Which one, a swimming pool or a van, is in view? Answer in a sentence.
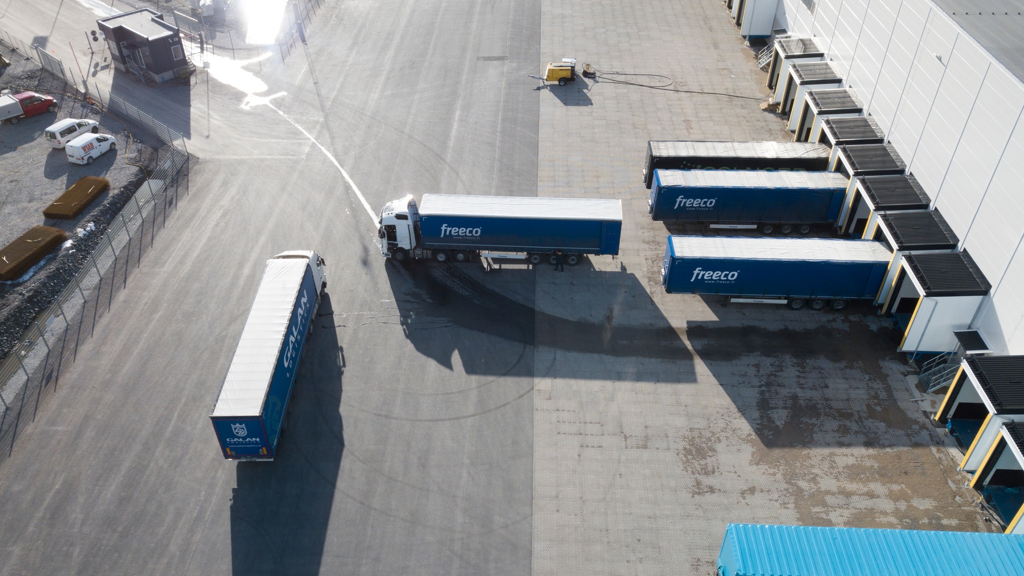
There is a van in the scene.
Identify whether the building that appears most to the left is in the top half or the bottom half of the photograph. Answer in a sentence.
The top half of the photo is where the building that appears most to the left is.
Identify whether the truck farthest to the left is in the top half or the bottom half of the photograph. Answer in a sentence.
You can find the truck farthest to the left in the top half.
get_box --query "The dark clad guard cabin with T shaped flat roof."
[96,7,186,81]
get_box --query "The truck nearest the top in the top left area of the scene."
[0,91,59,125]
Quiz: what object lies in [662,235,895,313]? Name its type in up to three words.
trailer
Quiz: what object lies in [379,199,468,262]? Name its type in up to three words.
truck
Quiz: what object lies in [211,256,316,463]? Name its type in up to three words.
trailer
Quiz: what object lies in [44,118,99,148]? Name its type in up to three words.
van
